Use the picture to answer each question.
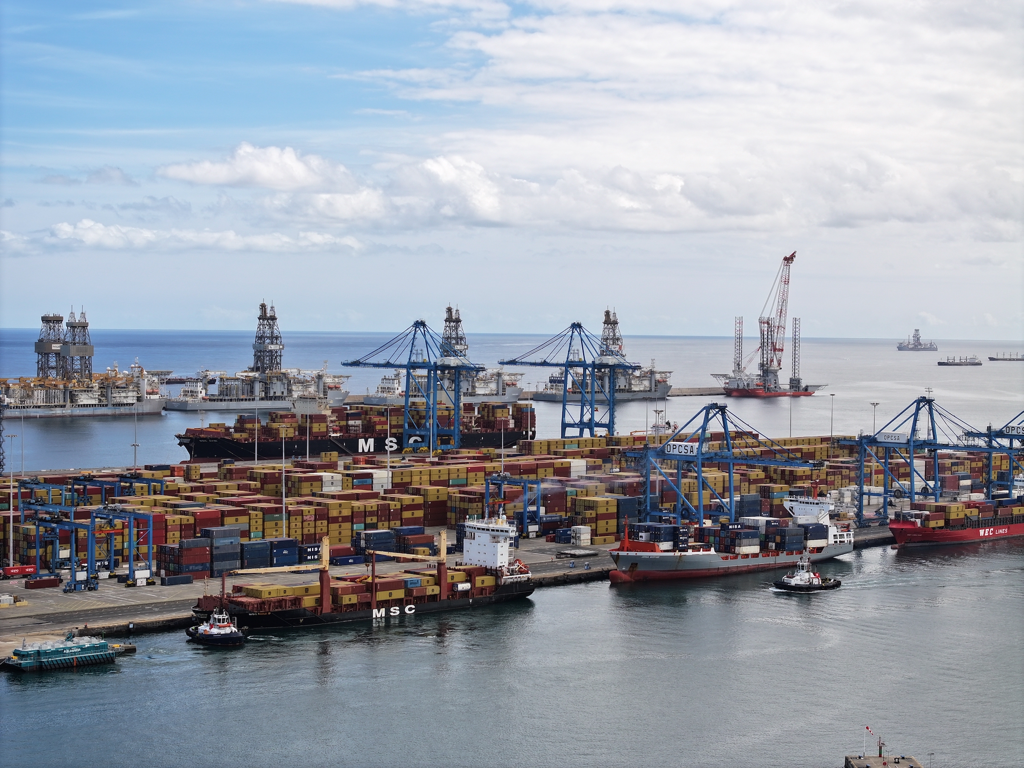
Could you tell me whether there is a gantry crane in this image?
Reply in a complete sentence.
Yes, the frame does contain a gantry crane.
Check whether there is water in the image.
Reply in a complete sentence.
Yes, there is water in the image.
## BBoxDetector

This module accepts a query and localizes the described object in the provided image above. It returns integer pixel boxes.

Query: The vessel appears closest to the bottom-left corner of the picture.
[0,620,125,671]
